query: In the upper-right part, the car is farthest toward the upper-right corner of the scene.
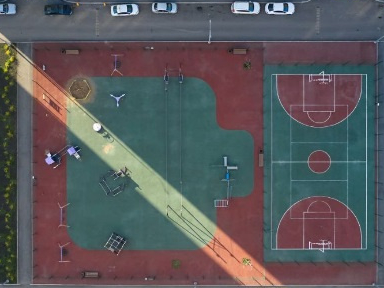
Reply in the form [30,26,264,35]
[265,1,295,16]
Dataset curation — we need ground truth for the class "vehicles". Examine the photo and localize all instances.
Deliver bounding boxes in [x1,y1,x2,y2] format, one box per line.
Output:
[265,1,295,16]
[45,3,73,17]
[231,1,260,15]
[152,1,177,14]
[111,3,140,17]
[0,2,18,16]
